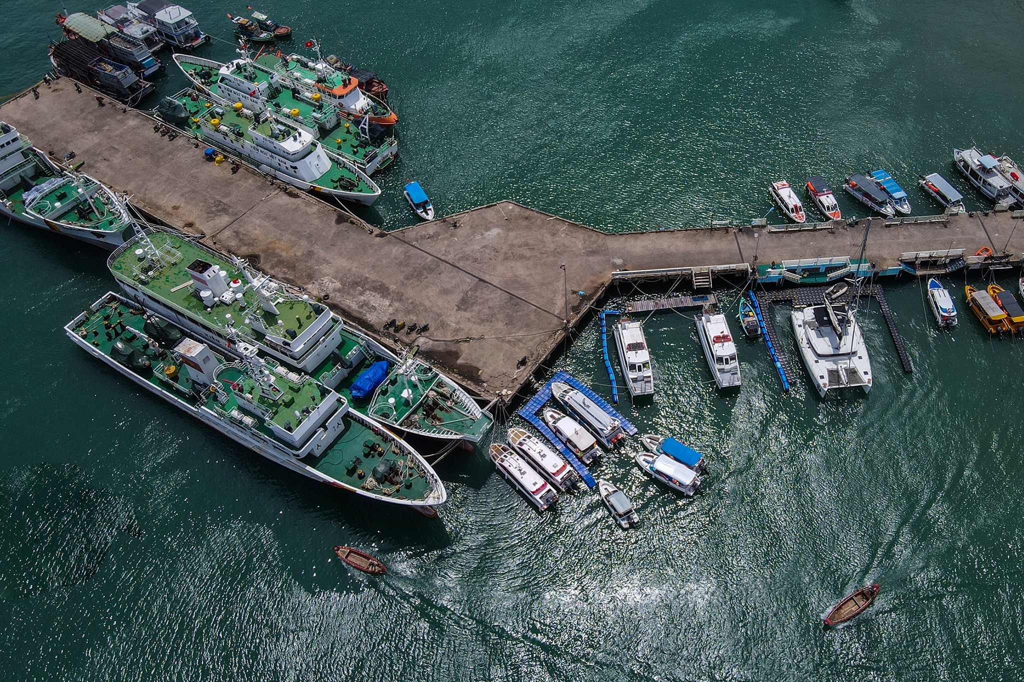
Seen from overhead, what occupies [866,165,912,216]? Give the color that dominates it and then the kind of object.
blue boat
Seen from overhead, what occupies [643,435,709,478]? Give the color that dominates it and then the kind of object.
blue boat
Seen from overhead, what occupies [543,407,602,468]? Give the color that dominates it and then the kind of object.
white boat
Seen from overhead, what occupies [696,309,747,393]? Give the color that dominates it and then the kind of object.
white boat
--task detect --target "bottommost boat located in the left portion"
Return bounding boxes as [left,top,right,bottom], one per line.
[333,546,403,582]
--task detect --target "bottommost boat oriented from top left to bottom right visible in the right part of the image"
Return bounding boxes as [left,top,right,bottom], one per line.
[598,482,640,533]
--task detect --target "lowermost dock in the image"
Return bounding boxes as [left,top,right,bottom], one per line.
[519,373,639,490]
